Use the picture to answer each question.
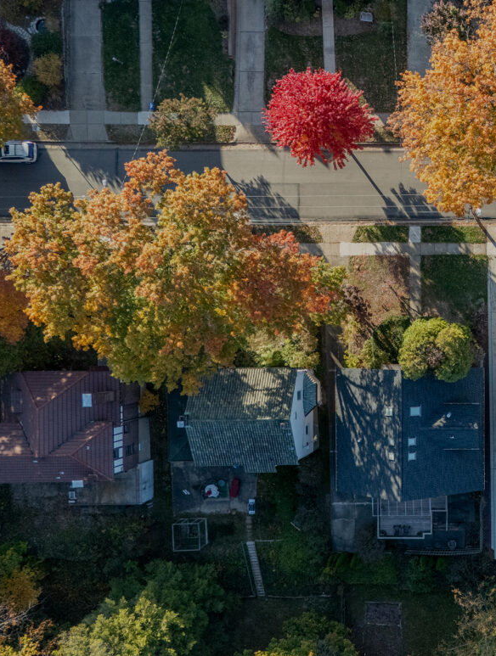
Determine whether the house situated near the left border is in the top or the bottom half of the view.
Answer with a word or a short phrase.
bottom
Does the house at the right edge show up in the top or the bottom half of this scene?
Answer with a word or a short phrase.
bottom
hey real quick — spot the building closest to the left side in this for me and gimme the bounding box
[0,370,161,507]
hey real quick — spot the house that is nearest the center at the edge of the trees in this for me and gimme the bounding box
[167,368,324,466]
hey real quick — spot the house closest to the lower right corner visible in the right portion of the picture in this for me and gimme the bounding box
[336,357,485,501]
